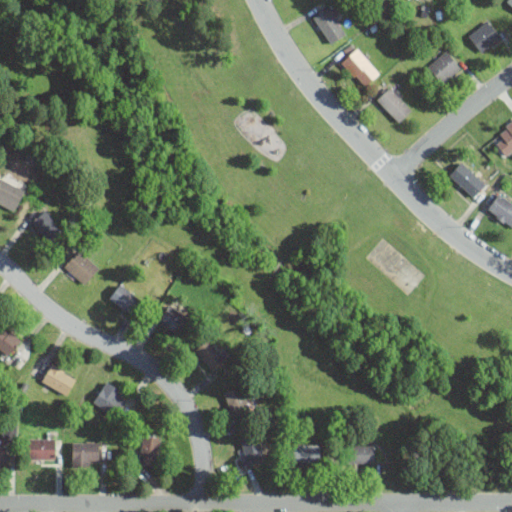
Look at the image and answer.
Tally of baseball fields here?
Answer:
zero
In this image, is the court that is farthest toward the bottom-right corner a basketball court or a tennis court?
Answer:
basketball court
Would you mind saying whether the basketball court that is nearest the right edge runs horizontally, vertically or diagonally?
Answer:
diagonally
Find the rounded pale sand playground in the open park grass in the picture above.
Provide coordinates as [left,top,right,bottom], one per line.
[234,110,287,162]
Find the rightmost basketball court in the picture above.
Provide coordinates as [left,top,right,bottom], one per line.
[366,238,425,296]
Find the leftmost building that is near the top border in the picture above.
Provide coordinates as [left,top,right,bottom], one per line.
[314,9,346,44]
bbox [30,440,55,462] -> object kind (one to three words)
house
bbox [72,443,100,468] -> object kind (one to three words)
house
